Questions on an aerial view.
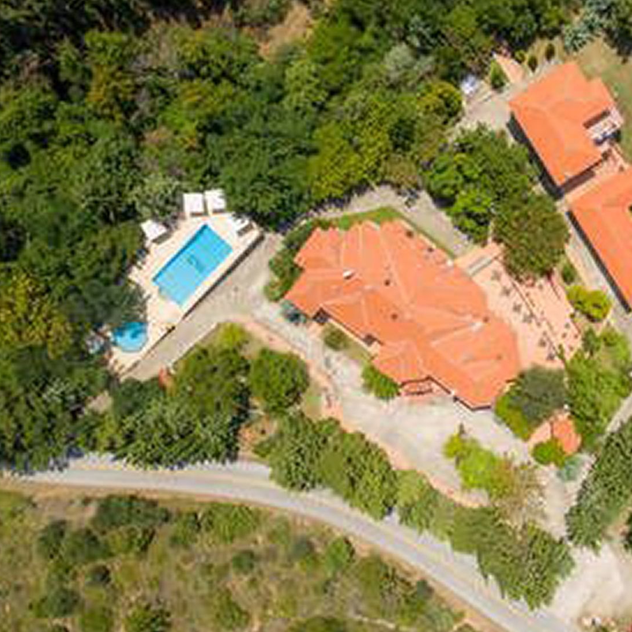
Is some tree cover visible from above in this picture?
Yes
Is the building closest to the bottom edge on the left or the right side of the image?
right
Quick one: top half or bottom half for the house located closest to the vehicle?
top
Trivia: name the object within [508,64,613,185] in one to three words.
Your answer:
house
